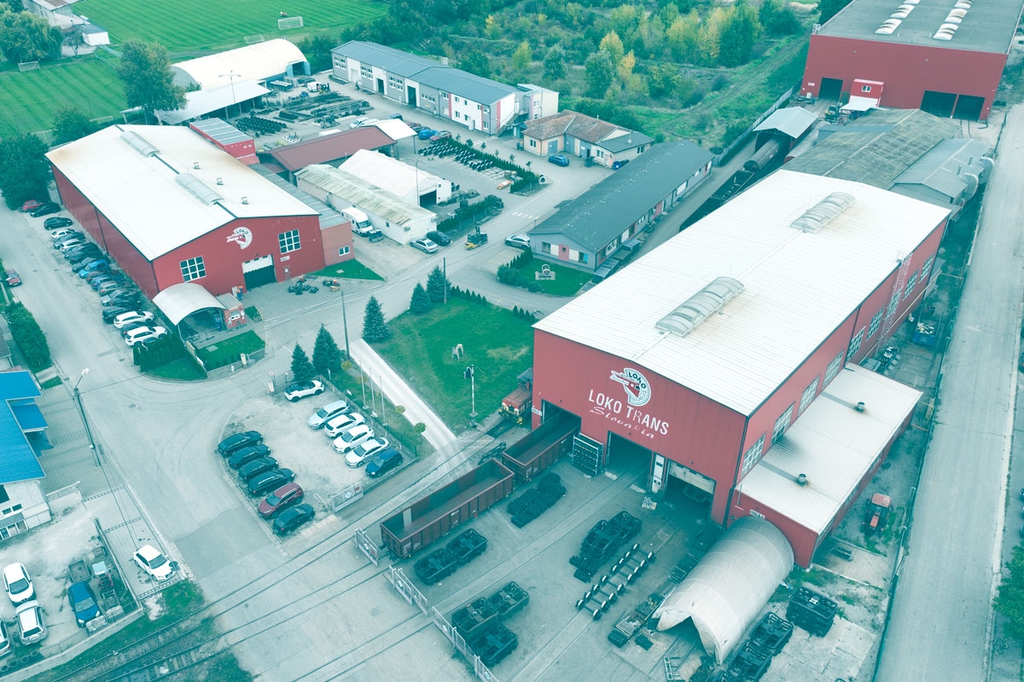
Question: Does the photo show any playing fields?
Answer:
Yes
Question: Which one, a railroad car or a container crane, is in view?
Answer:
railroad car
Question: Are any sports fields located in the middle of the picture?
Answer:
No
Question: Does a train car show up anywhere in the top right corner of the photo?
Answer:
Yes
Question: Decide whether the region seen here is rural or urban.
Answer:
urban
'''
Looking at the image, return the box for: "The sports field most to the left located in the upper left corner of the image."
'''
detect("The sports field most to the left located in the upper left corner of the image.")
[0,55,135,151]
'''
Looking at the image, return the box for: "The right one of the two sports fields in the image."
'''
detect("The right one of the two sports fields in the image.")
[82,0,352,51]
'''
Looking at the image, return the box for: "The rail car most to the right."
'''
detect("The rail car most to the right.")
[794,135,817,156]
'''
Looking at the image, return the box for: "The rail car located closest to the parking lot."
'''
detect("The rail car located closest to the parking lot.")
[377,456,518,564]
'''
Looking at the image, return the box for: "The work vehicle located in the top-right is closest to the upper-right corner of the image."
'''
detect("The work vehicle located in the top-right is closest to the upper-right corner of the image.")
[826,98,838,119]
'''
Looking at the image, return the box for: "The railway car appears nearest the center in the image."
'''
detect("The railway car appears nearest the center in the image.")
[491,361,531,427]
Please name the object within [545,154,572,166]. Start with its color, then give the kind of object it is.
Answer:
blue vehicle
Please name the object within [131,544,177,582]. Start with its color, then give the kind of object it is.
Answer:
white car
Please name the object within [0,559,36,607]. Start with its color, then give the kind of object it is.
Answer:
white car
